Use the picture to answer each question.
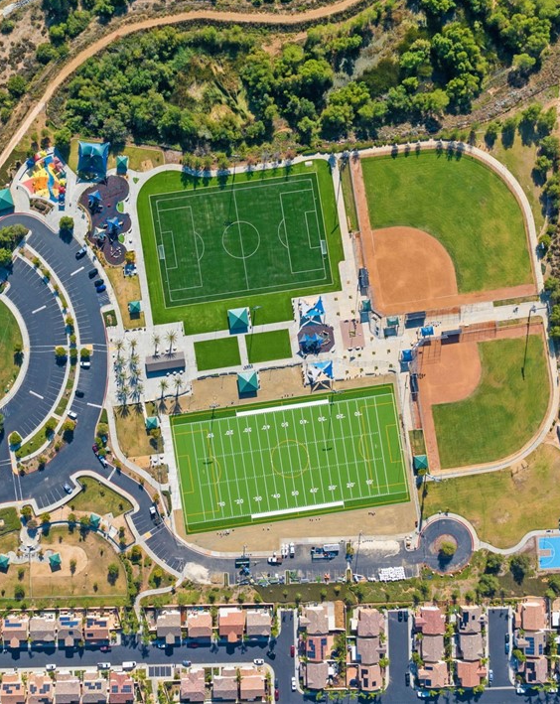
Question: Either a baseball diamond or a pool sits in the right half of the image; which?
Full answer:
Visible in the right half of the image is a baseball diamond.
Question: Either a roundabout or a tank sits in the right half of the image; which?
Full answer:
Visible in the right half of the image is a roundabout.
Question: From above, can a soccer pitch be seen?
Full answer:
Yes, a soccer pitch can be made out from above.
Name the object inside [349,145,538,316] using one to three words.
baseball field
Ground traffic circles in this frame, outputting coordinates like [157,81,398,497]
[420,520,472,571]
